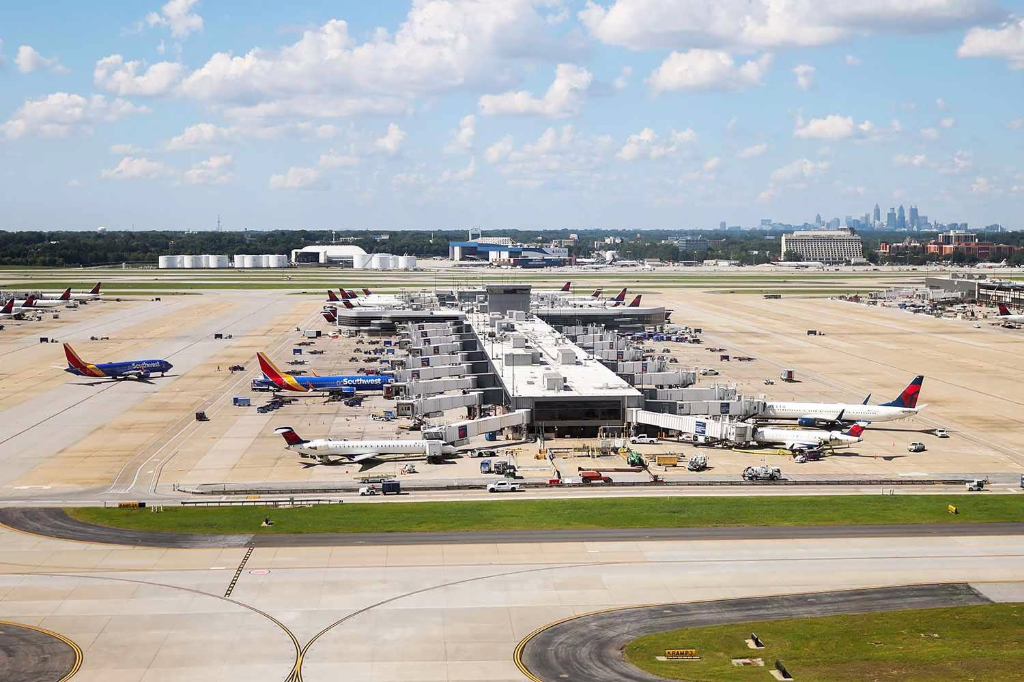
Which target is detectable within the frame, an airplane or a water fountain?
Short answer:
airplane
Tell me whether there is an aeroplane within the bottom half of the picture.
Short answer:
Yes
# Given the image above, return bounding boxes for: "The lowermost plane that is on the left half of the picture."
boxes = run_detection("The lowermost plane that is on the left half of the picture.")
[271,427,456,468]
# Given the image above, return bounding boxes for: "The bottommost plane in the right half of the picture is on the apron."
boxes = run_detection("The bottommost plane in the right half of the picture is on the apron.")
[754,432,876,460]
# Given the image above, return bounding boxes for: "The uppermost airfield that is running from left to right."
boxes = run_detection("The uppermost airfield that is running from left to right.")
[0,267,1024,322]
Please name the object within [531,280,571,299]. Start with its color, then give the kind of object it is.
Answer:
white airplane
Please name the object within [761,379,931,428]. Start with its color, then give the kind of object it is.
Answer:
white airplane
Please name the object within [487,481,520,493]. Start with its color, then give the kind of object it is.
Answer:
white vehicle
